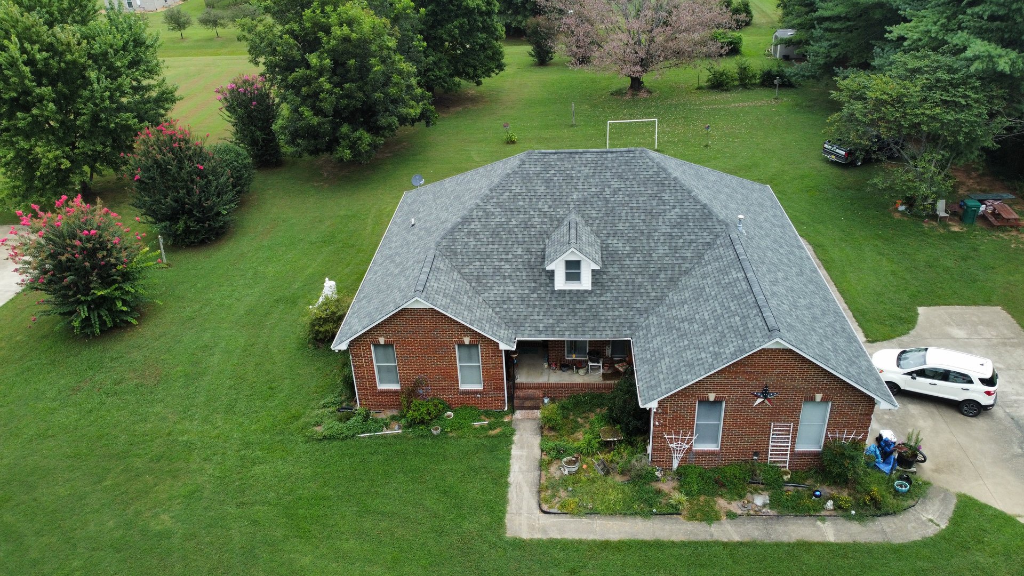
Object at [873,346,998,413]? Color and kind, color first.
white car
